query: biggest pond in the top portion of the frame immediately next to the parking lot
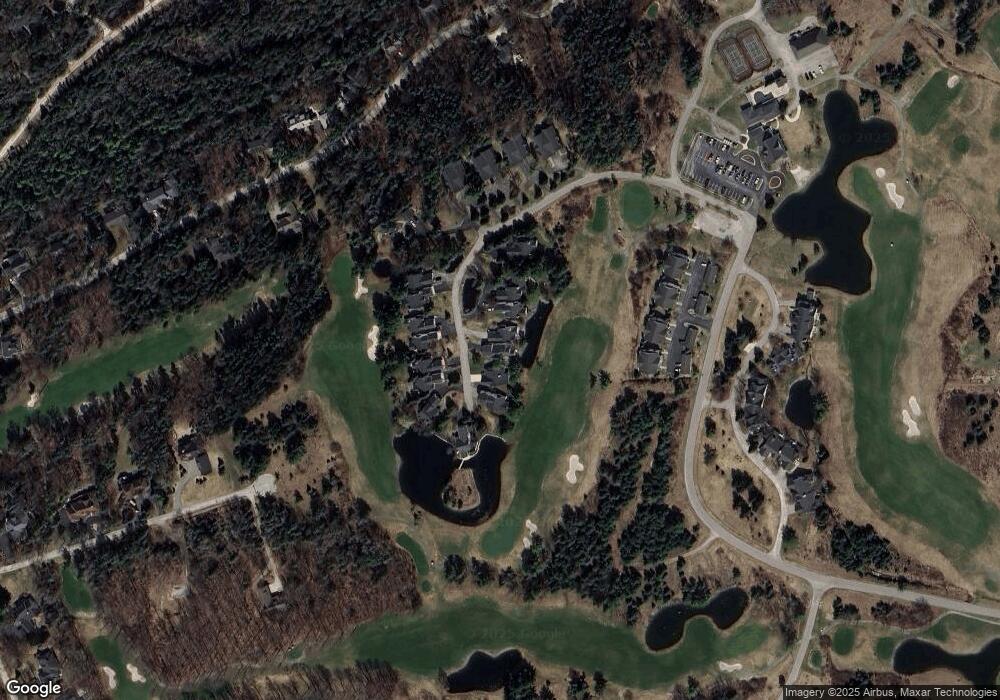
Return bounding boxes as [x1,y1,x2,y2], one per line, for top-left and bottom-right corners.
[773,90,896,294]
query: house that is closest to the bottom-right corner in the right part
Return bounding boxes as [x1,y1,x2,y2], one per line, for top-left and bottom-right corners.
[785,473,817,512]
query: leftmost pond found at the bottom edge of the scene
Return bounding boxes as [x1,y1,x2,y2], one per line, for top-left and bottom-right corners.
[446,650,529,692]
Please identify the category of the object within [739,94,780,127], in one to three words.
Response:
building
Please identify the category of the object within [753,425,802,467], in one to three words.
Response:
house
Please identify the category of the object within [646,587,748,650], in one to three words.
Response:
pond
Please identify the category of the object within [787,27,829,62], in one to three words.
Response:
building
